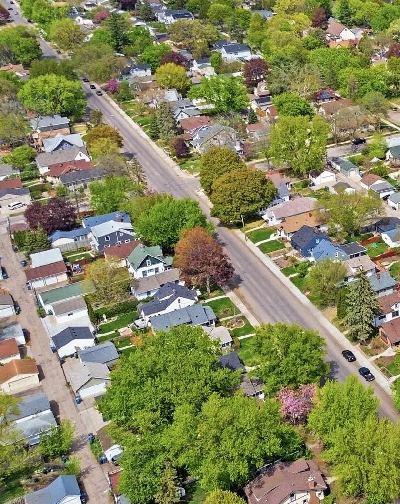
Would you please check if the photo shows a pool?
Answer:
No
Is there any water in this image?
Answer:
No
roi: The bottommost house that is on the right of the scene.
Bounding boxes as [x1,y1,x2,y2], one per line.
[244,455,334,504]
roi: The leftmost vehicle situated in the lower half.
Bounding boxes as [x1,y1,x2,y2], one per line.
[342,350,357,363]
